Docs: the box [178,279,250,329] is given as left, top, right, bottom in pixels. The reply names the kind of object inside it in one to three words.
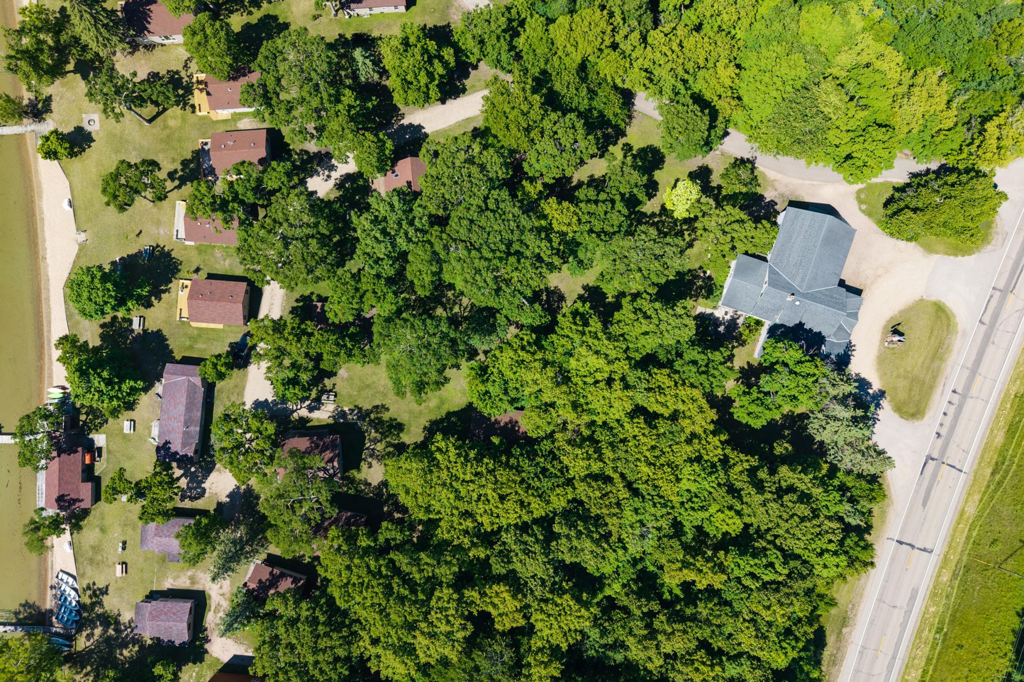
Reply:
building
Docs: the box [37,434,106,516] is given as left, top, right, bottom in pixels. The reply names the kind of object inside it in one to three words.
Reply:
building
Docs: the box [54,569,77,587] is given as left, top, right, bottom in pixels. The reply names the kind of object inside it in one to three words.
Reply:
boat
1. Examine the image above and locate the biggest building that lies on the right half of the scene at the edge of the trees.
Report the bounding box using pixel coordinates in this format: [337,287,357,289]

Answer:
[719,203,863,369]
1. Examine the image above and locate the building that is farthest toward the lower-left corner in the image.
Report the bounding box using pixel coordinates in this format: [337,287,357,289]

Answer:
[134,597,196,647]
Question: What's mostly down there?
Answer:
trees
